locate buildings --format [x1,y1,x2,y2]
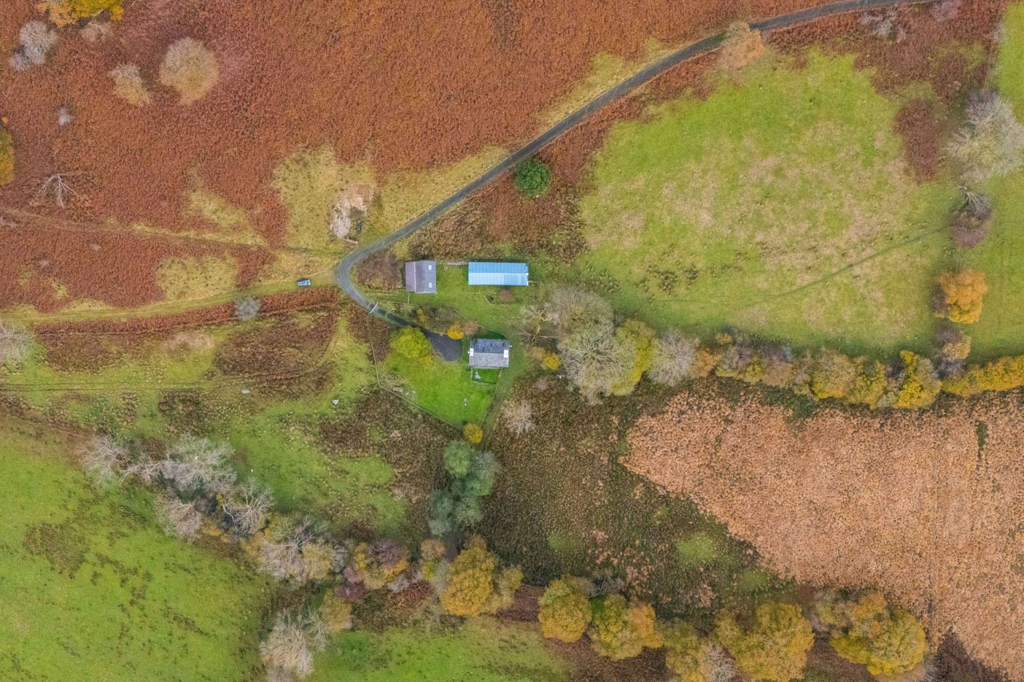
[406,260,437,294]
[468,262,529,287]
[469,339,511,369]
